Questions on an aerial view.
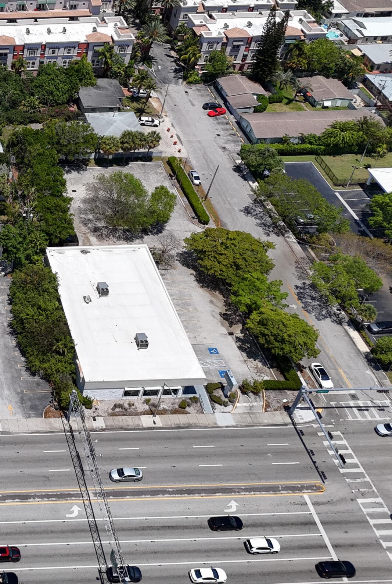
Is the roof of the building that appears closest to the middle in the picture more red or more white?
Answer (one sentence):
In this view, the roof of the building that appears closest to the middle is white.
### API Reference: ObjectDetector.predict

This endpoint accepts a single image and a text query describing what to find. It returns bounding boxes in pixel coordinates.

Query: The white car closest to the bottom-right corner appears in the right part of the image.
[244,537,282,556]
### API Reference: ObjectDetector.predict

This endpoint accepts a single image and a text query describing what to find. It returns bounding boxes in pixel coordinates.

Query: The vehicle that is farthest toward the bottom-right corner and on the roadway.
[314,559,358,581]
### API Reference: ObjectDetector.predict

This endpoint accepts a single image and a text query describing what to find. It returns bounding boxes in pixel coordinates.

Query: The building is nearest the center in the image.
[45,245,207,399]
